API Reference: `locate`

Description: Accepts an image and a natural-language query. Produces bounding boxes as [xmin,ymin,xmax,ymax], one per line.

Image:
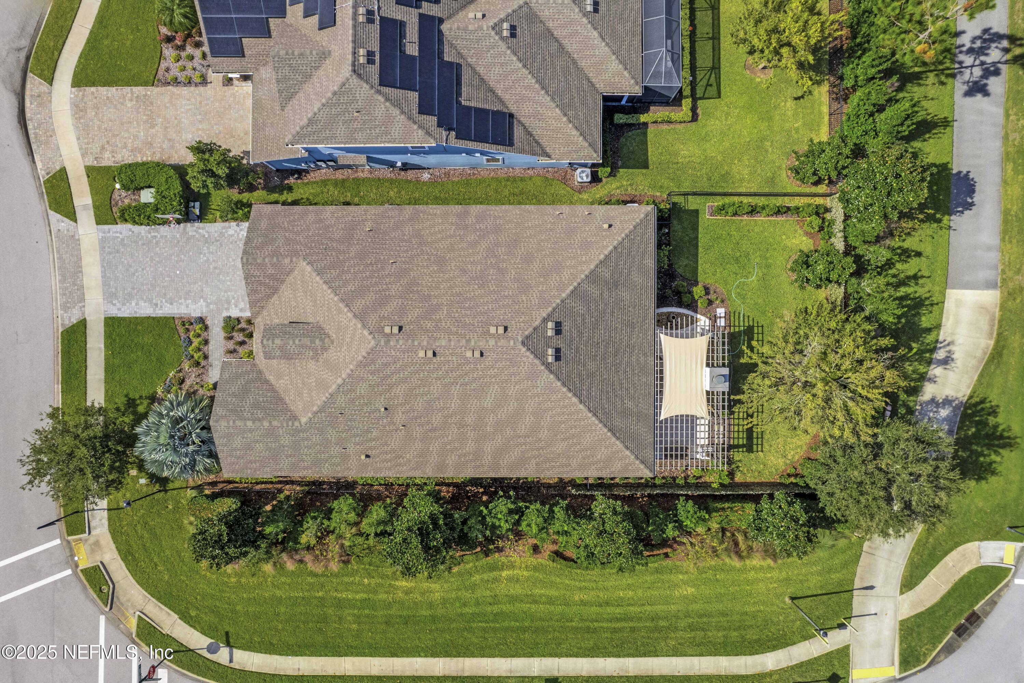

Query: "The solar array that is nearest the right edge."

[380,0,509,145]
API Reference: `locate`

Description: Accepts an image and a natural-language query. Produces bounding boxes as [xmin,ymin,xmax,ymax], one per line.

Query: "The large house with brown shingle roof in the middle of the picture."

[209,205,658,478]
